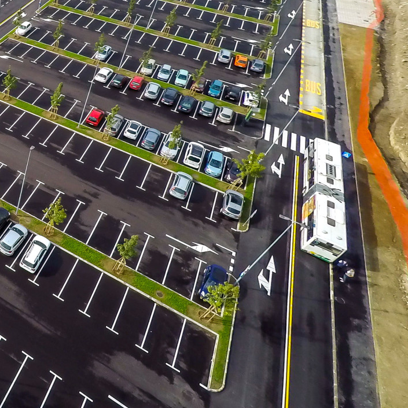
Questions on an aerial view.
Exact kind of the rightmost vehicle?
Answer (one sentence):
I'd say the rightmost vehicle is a bus.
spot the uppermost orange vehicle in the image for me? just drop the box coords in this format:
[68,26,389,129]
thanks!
[232,55,250,69]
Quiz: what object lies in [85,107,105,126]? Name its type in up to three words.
car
